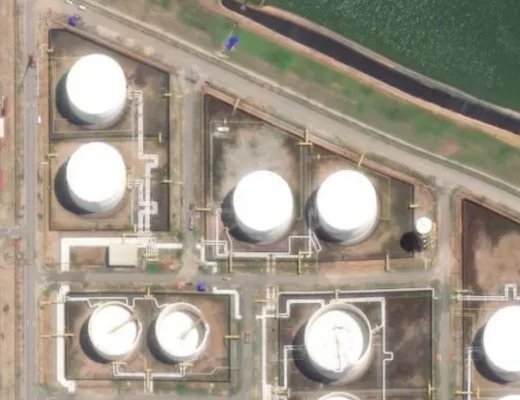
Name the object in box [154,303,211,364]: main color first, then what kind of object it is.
white storage tank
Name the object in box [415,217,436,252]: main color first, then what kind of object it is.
white water tower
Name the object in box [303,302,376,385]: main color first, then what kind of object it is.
white storage tank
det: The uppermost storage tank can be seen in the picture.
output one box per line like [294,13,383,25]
[66,55,131,129]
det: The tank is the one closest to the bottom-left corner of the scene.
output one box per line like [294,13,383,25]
[87,301,144,363]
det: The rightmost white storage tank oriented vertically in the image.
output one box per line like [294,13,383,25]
[481,305,520,387]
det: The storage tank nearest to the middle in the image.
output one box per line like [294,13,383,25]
[232,171,298,246]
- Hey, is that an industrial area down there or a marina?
industrial area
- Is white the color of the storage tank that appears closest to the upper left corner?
Yes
